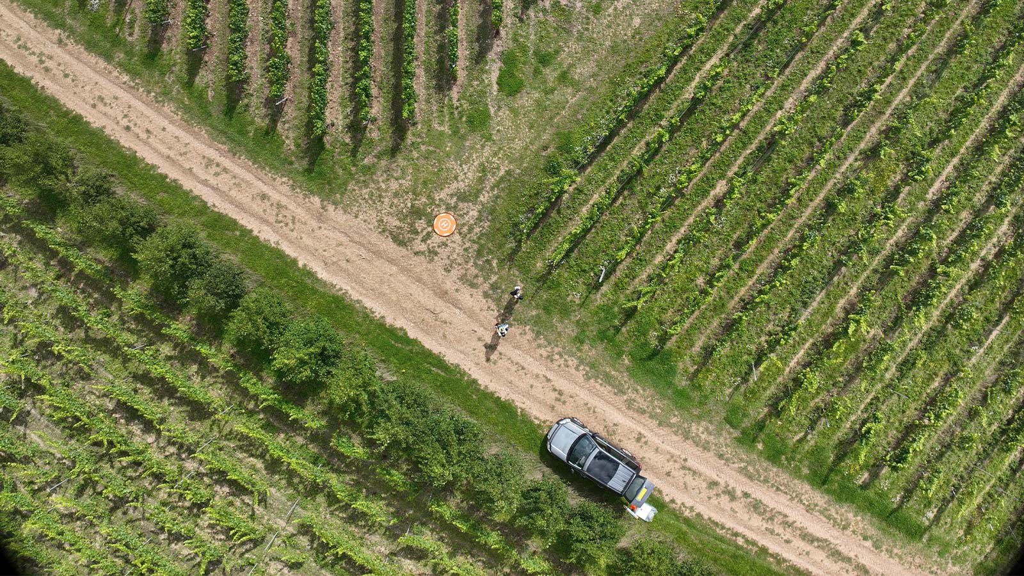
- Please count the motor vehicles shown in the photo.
1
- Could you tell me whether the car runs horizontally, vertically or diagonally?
diagonally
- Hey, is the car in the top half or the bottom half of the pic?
bottom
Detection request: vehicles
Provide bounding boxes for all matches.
[546,416,655,507]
